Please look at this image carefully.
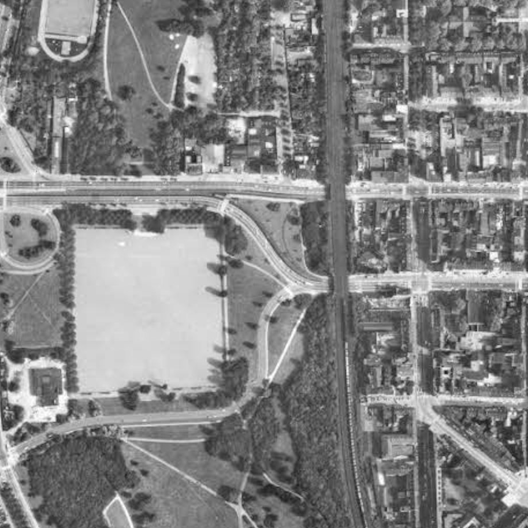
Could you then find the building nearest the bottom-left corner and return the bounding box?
[28,368,63,406]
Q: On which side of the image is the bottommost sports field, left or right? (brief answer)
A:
left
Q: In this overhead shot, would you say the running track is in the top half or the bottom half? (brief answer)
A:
top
